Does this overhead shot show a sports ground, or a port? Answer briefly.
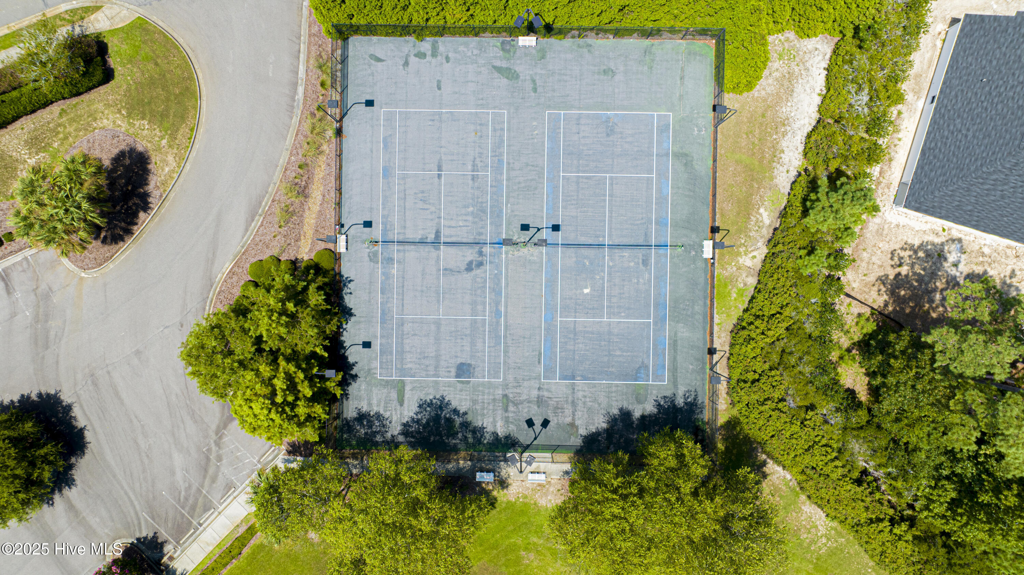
sports ground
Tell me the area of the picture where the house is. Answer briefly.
top right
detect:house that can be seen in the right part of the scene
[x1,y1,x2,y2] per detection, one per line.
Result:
[890,16,1024,247]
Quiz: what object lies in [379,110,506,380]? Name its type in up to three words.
tennis court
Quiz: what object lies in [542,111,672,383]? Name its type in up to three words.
tennis court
